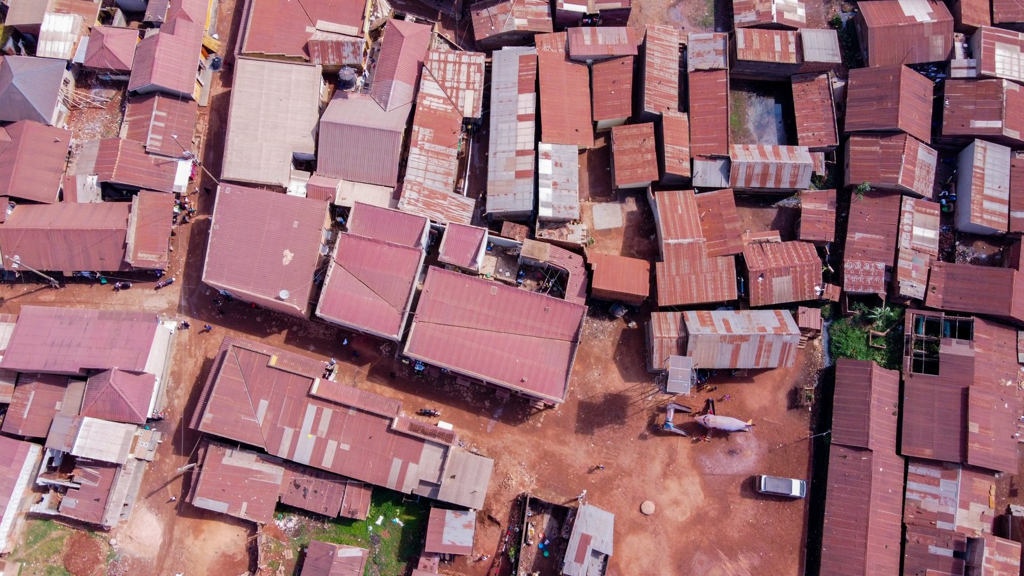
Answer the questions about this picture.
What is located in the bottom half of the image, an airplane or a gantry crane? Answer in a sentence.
Looking in the bottom half of the image, you will find an airplane.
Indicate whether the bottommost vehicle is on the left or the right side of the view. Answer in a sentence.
The bottommost vehicle is on the right side of the image.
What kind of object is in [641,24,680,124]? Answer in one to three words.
house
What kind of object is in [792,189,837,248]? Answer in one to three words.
shed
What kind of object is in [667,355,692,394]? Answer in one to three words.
solar panel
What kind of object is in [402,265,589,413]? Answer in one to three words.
building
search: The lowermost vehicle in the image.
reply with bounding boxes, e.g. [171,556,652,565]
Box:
[752,474,805,501]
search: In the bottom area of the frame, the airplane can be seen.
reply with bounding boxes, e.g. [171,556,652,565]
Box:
[692,396,755,441]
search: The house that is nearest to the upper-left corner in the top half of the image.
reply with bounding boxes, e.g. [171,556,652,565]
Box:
[5,0,47,43]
